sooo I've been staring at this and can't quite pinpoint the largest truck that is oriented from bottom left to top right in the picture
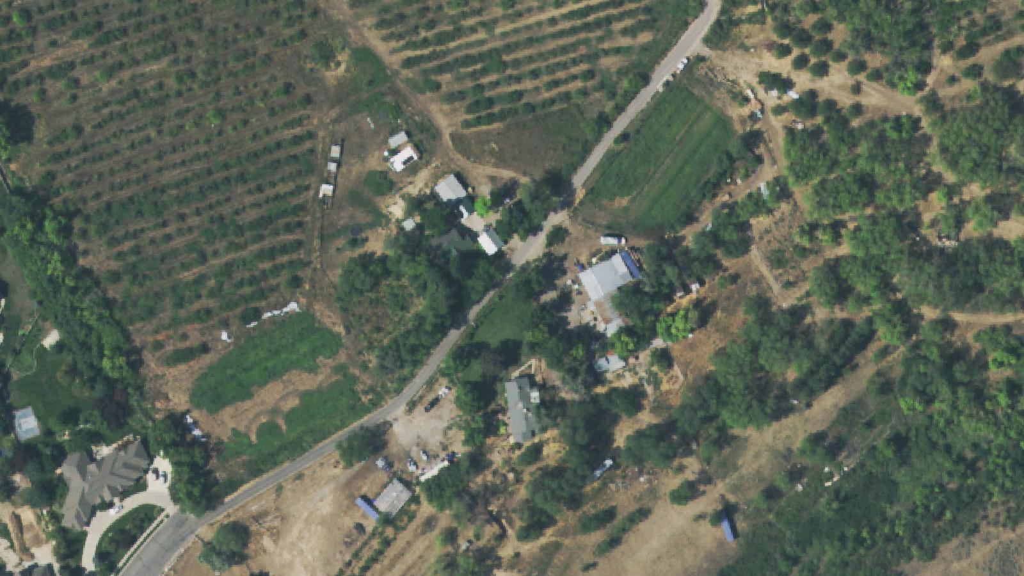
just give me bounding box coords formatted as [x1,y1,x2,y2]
[591,459,615,480]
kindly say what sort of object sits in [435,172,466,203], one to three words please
barn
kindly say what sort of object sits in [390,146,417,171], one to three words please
shed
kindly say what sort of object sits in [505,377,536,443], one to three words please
house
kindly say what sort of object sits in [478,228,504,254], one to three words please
building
